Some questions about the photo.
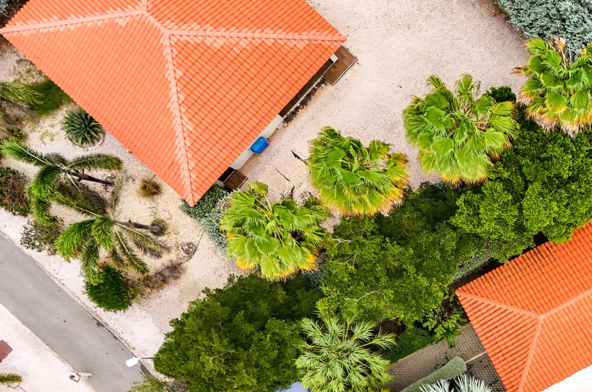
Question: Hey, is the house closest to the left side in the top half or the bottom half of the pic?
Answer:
top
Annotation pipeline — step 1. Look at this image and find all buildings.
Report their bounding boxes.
[454,216,592,392]
[0,0,360,207]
